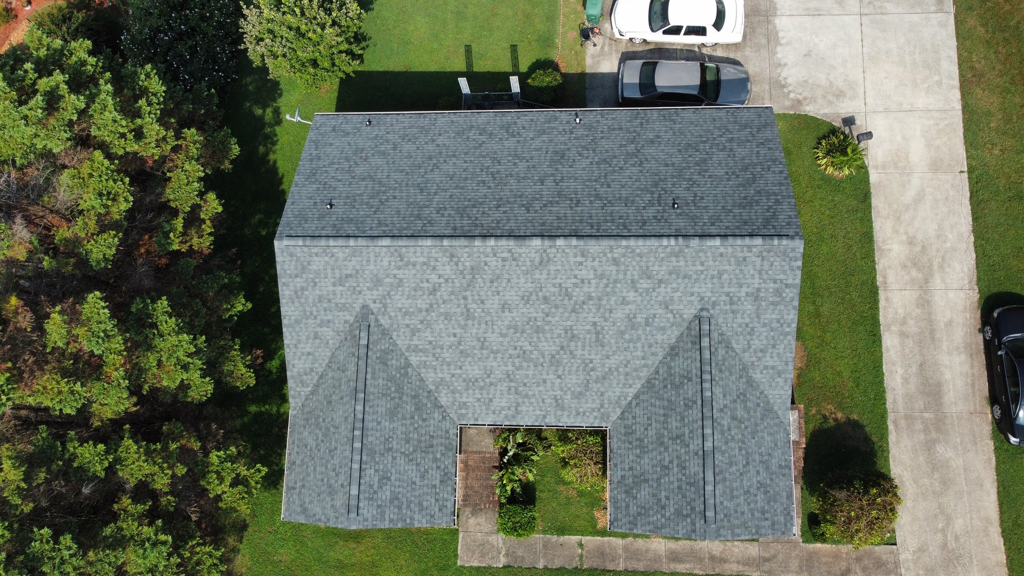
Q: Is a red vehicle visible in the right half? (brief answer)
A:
No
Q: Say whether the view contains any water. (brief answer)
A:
No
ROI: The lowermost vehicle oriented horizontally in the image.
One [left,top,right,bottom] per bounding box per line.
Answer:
[618,54,751,107]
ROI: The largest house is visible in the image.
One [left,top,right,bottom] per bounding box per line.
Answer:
[275,104,802,541]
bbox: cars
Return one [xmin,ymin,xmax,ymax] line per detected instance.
[984,305,1024,439]
[613,0,749,47]
[618,54,751,107]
